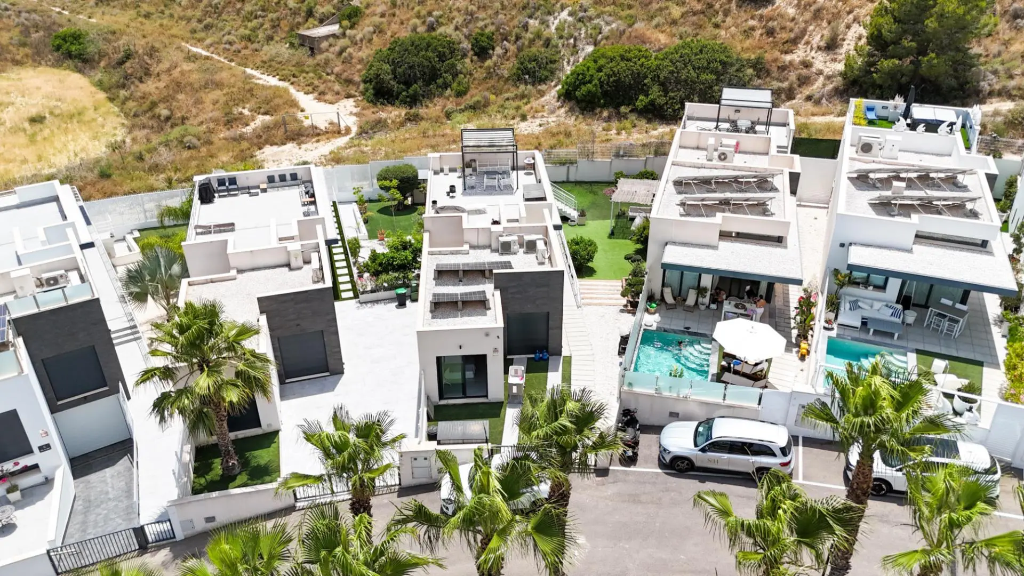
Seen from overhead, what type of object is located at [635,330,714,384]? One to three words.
swimming pool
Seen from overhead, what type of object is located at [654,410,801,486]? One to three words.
car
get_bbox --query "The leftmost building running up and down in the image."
[0,174,134,492]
